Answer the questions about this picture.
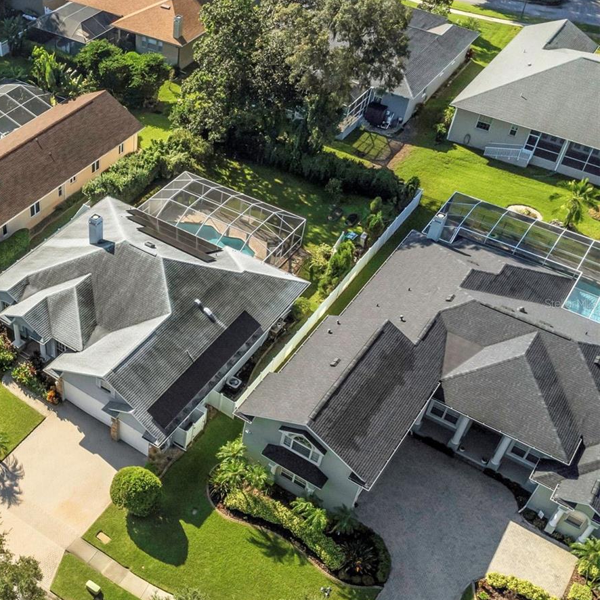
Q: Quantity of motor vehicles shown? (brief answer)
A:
0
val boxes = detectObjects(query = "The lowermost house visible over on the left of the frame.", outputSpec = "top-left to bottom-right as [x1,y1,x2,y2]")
[0,193,309,458]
